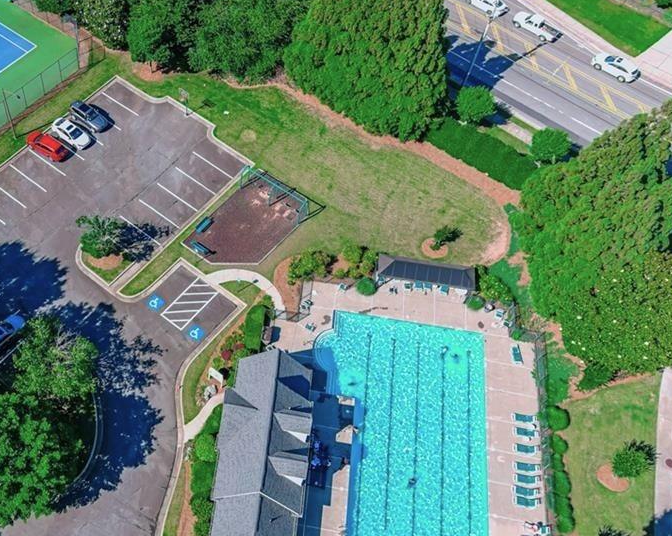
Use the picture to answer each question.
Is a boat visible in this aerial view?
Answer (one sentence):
No, there isn't any boat down there.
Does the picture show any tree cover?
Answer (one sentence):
Yes, tree cover shows up in the scene.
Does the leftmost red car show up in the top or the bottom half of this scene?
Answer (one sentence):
The leftmost red car is in the top half of the image.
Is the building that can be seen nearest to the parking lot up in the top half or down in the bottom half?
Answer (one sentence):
Seen from above, the building that can be seen nearest to the parking lot lies in the bottom half of the view.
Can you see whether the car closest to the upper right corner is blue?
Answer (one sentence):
No, from above the car closest to the upper right corner looks white.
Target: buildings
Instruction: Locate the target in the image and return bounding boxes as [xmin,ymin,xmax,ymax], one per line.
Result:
[376,253,475,302]
[207,347,316,536]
